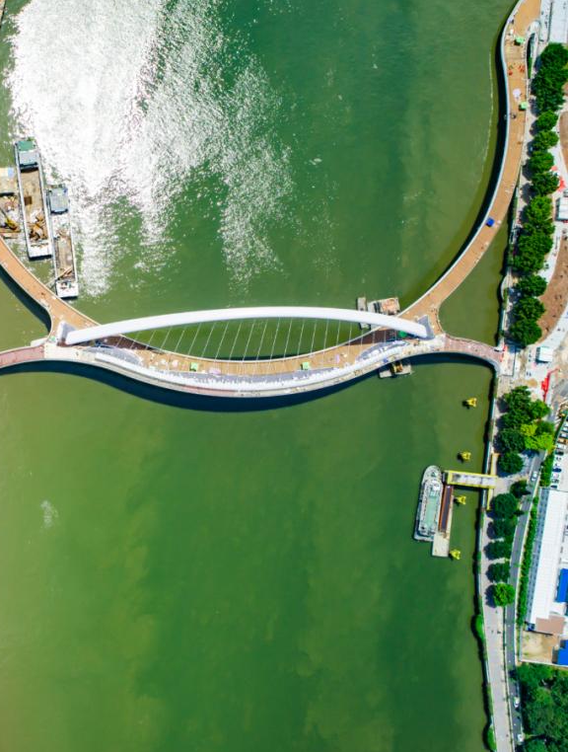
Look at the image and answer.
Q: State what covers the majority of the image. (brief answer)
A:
water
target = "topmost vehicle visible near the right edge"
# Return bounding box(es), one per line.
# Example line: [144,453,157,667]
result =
[541,365,568,398]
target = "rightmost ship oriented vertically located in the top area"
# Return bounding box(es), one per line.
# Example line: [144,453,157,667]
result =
[47,184,77,298]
